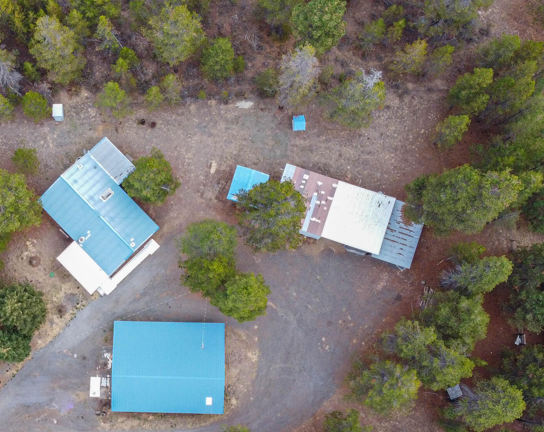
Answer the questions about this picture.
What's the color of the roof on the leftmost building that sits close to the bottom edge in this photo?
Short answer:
blue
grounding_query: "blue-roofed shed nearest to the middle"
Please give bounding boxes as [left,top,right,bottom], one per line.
[228,165,270,206]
